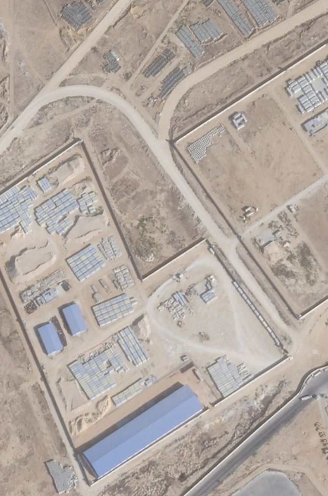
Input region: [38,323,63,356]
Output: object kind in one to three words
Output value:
building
